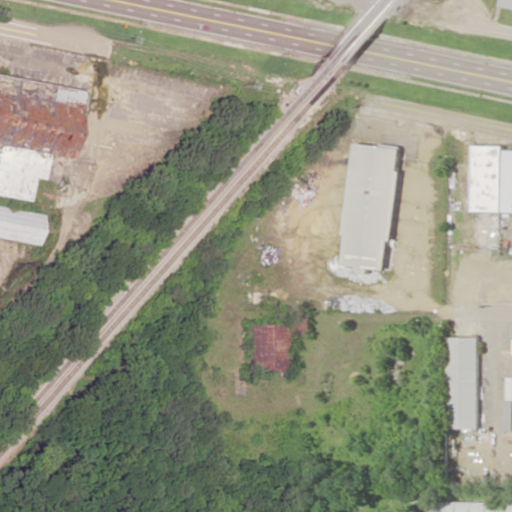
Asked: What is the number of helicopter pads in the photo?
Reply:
0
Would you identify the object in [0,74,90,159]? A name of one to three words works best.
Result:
building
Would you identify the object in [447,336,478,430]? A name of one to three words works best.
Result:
shed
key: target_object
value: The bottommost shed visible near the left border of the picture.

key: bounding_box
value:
[0,206,49,246]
